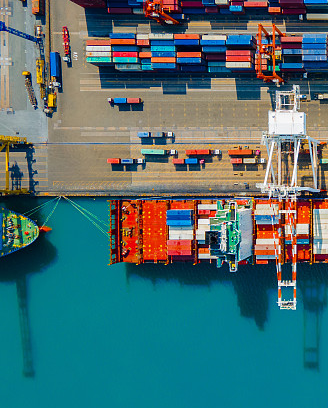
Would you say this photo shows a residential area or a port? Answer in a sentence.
This looks like a port.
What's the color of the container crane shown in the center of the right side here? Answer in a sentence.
In this view, the container crane shown in the center of the right side is white.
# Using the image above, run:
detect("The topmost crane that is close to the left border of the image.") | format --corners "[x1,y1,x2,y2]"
[0,27,45,84]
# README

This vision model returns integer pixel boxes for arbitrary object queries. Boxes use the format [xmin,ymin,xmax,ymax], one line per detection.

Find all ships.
[0,206,52,257]
[109,196,328,274]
